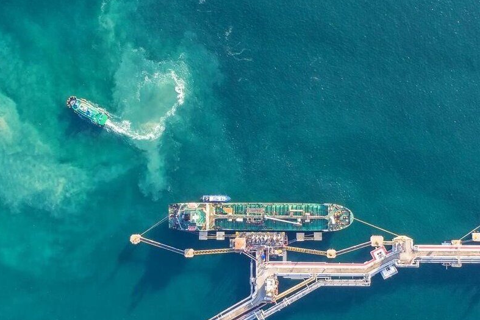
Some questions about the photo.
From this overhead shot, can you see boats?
Yes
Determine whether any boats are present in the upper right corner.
No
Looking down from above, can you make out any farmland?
No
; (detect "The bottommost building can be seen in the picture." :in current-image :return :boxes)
[262,274,279,304]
